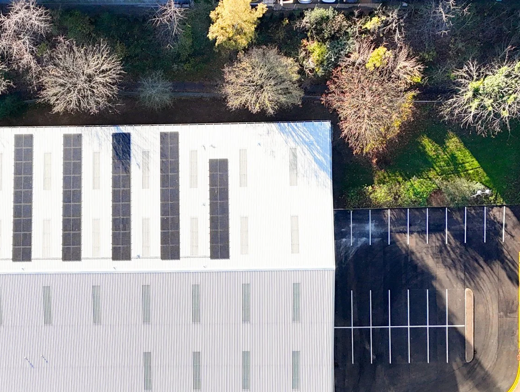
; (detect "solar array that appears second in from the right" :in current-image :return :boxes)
[160,132,180,259]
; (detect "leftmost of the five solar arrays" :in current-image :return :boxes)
[10,134,35,260]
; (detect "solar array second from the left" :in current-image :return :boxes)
[61,133,83,260]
